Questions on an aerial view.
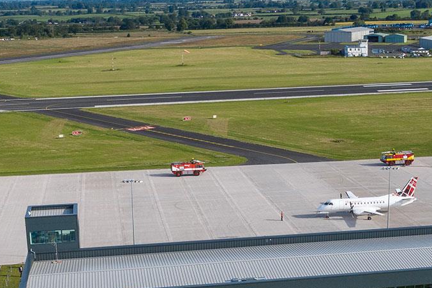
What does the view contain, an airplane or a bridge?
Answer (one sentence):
It is an airplane that can be seen here.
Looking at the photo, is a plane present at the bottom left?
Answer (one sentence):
No, there's no plane to be seen at the bottom left.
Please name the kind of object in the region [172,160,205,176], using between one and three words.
vehicle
